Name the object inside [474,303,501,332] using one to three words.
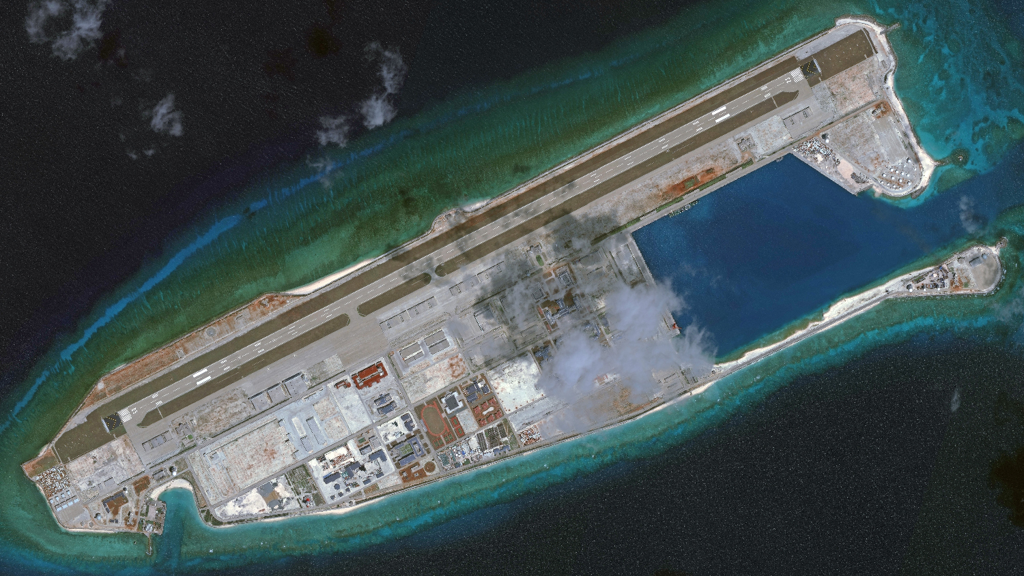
hangar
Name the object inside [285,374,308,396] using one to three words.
hangar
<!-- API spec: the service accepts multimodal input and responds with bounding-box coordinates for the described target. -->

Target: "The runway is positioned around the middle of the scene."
[118,65,806,424]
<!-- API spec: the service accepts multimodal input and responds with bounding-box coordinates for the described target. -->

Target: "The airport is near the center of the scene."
[54,28,875,469]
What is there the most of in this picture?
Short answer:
water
